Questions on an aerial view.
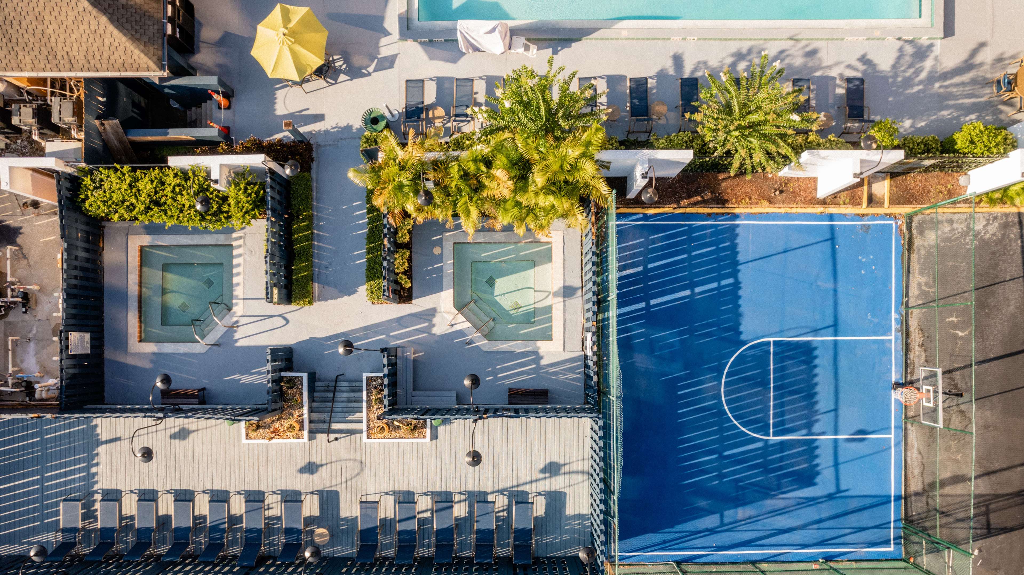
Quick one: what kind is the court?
basketball court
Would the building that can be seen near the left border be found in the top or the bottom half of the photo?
top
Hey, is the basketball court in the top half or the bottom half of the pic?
bottom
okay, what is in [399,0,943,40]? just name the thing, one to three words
swimming pool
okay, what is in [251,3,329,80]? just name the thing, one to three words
umbrella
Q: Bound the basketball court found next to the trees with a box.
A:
[596,209,902,561]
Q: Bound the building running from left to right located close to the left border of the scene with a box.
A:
[0,0,184,78]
